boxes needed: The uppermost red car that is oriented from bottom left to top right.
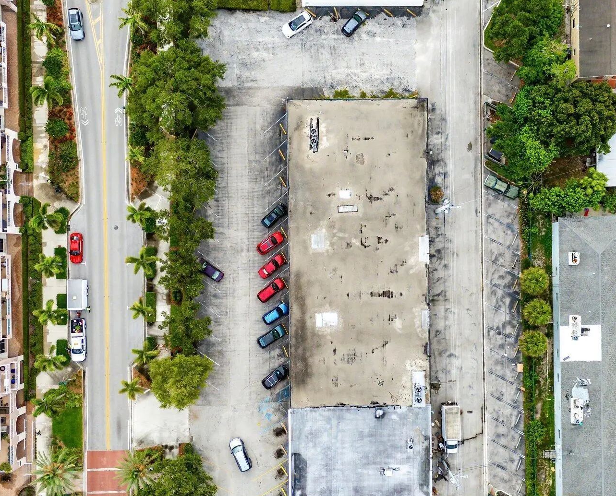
[255,230,285,256]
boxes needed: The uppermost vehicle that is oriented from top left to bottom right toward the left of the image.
[195,257,226,283]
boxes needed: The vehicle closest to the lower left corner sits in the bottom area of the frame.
[68,319,87,361]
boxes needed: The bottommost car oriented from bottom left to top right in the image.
[260,363,290,391]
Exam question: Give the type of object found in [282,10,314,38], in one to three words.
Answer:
car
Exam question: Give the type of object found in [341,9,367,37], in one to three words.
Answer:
car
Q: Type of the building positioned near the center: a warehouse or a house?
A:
warehouse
